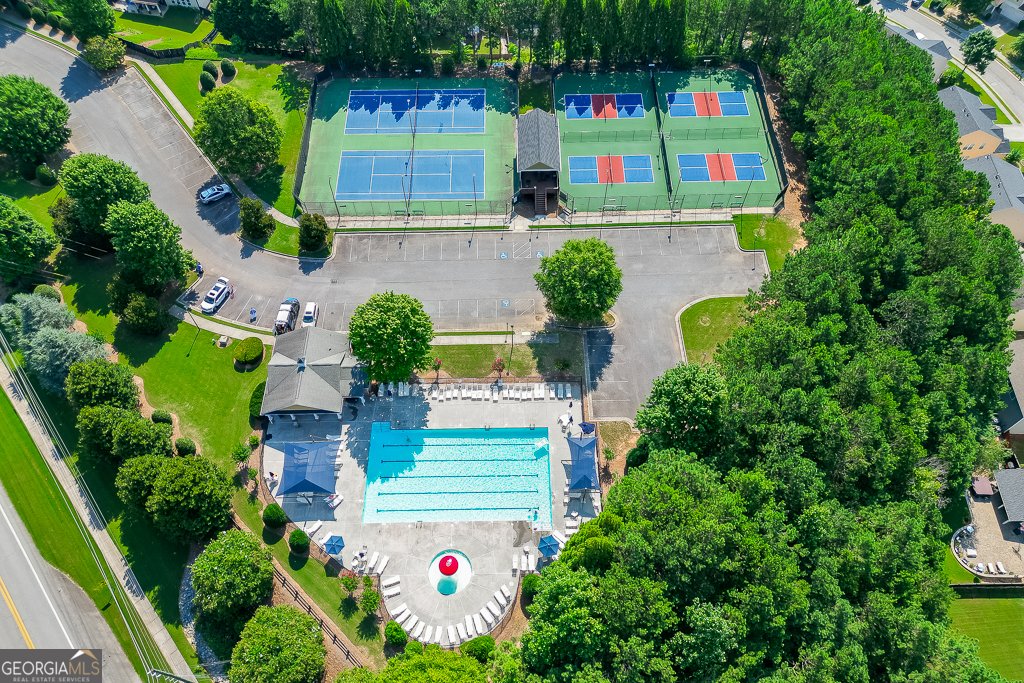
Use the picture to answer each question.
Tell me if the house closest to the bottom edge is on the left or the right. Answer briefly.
right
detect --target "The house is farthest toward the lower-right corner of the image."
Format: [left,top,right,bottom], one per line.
[985,464,1024,528]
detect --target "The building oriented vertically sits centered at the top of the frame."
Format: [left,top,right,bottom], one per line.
[515,103,562,214]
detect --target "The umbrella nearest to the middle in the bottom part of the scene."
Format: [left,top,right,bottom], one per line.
[578,417,594,434]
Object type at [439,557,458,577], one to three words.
fountain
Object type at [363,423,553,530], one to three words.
swimming pool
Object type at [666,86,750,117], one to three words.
sports court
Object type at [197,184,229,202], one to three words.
car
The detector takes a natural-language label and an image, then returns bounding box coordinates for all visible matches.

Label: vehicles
[197,184,229,202]
[299,300,319,326]
[911,0,924,5]
[270,298,301,333]
[199,276,228,312]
